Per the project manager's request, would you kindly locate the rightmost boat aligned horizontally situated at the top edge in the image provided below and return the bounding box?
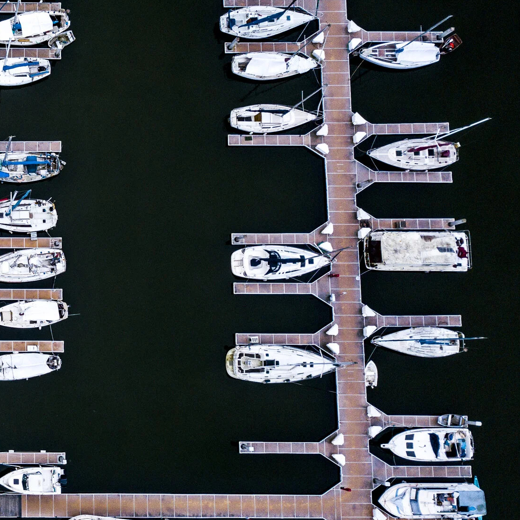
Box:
[351,14,457,68]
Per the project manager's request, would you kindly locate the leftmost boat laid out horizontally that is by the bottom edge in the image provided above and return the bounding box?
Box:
[0,467,79,495]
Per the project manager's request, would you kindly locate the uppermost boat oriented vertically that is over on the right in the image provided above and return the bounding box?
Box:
[367,352,380,389]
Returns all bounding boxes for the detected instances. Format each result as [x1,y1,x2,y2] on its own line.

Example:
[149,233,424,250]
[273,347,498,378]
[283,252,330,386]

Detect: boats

[367,352,380,389]
[0,189,59,237]
[225,83,329,135]
[216,0,320,43]
[0,0,71,45]
[368,327,484,355]
[361,117,494,170]
[351,14,457,68]
[439,414,468,428]
[0,136,66,183]
[49,30,75,47]
[0,467,79,495]
[227,23,334,78]
[0,37,52,85]
[223,344,361,384]
[228,244,357,281]
[0,239,67,282]
[373,477,485,520]
[0,292,77,341]
[378,427,474,461]
[0,343,62,382]
[441,33,461,53]
[362,229,480,272]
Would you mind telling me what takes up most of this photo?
water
